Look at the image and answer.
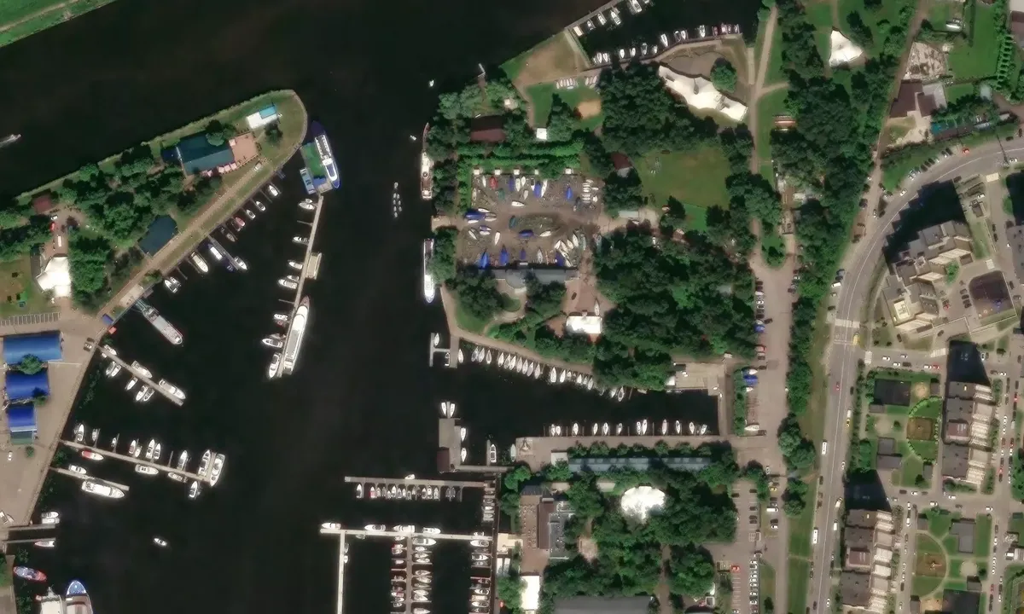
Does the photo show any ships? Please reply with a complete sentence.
Yes, the frame does contain a ship.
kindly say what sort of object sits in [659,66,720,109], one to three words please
tent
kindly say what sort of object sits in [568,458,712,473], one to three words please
building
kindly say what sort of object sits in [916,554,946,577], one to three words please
playground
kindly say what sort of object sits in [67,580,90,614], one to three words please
ship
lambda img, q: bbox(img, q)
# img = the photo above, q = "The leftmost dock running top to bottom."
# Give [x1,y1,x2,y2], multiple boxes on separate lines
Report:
[271,195,324,377]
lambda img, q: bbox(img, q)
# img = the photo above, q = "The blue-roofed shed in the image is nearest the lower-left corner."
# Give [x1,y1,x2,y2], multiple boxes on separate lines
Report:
[6,404,36,445]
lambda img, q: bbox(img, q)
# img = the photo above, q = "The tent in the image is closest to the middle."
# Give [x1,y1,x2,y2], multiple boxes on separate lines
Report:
[567,310,602,333]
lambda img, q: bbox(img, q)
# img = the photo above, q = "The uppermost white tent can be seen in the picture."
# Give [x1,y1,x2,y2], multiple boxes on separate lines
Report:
[830,31,862,66]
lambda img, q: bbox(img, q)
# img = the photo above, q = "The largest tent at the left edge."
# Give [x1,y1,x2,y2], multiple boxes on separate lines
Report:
[37,257,71,295]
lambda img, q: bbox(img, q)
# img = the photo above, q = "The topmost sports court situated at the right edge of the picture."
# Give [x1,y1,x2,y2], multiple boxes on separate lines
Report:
[970,271,1015,320]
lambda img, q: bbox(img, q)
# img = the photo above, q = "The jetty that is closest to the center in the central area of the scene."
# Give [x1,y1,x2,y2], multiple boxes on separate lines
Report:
[430,333,458,368]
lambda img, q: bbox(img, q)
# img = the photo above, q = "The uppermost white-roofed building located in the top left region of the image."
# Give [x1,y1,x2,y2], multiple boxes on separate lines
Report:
[247,104,278,129]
